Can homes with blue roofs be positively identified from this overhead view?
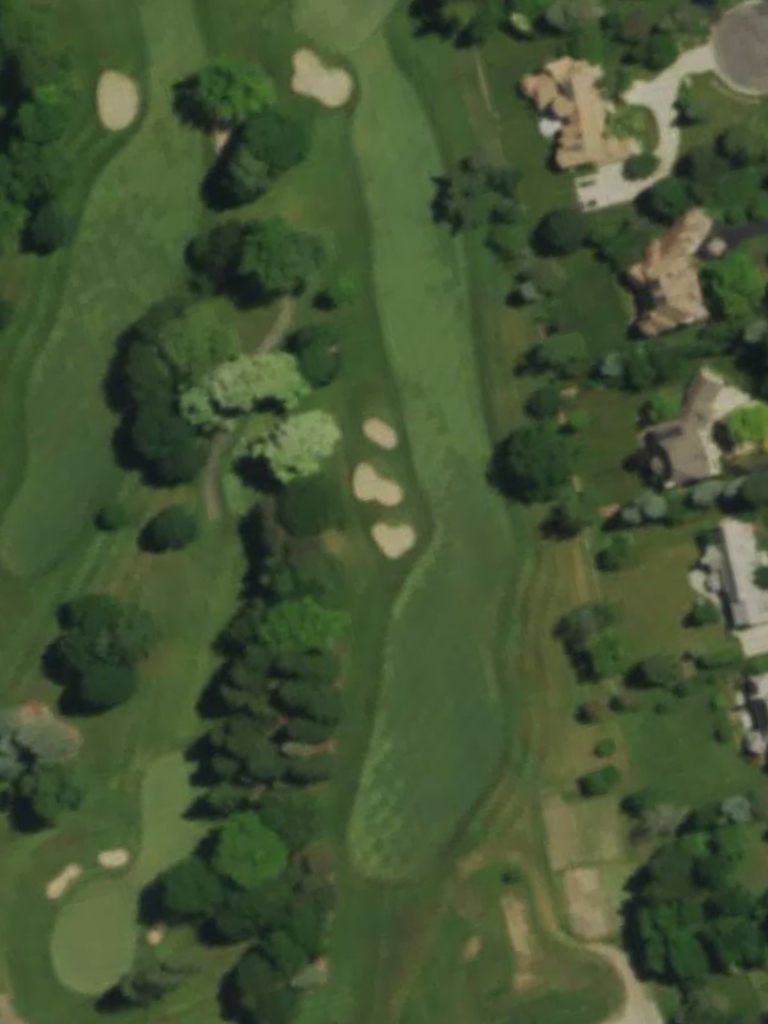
No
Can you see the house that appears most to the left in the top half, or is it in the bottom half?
top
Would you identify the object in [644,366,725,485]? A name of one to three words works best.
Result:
house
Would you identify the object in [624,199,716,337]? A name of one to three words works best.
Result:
house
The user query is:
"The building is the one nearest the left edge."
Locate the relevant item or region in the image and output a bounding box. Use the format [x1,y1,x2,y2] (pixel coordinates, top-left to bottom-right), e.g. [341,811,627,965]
[520,54,642,170]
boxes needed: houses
[624,199,716,337]
[644,366,725,485]
[746,672,768,762]
[702,515,768,627]
[520,54,642,170]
